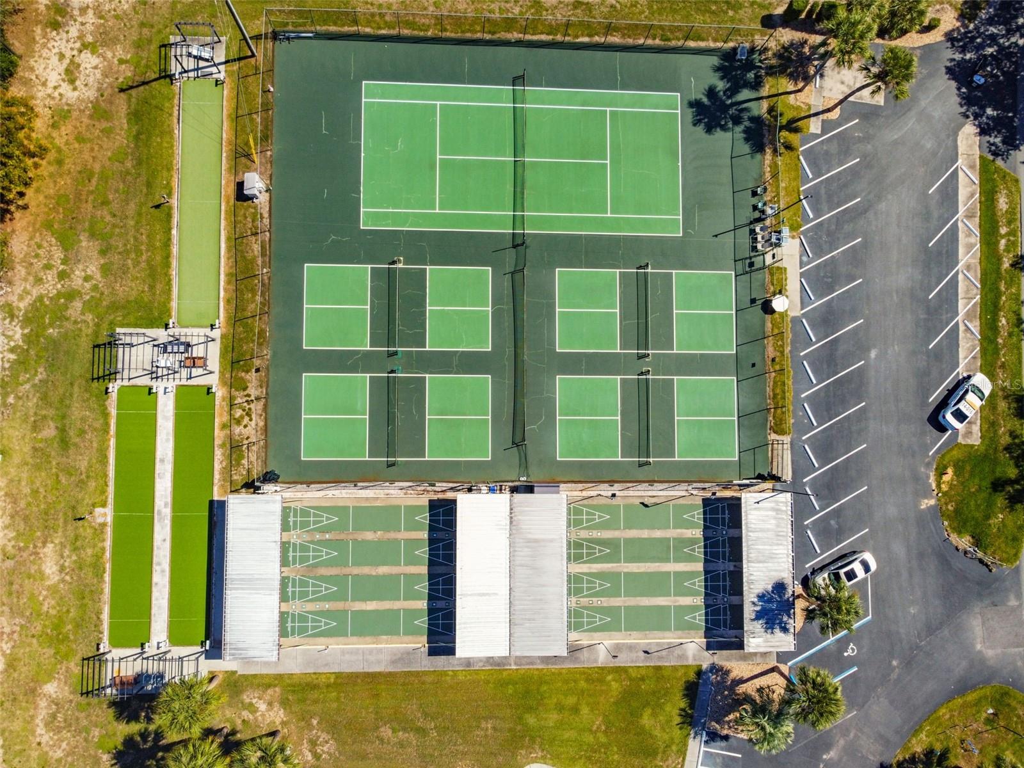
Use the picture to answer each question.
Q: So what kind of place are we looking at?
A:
sports ground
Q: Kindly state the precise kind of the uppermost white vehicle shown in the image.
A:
automobile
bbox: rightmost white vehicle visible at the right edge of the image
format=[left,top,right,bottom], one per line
[940,374,990,431]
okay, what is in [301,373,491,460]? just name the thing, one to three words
sports court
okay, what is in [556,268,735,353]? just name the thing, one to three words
sports court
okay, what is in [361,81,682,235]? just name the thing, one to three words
tennis court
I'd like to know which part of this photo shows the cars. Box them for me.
[811,550,876,591]
[940,374,990,431]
